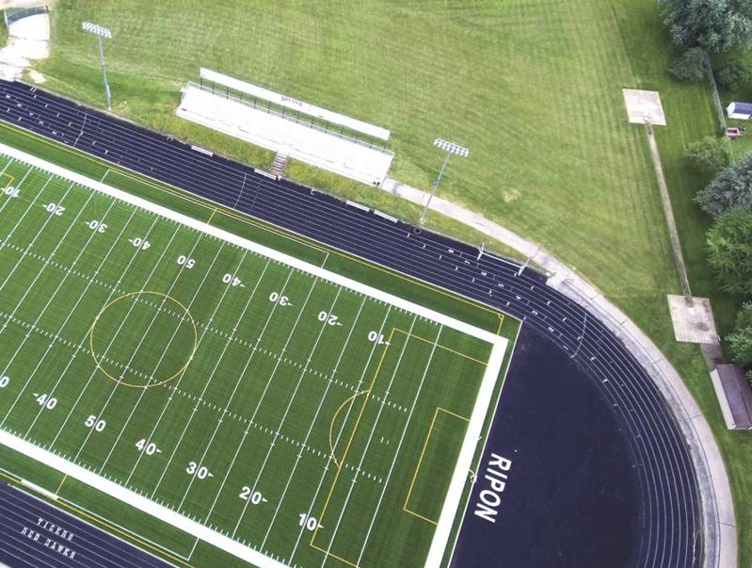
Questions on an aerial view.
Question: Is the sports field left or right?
left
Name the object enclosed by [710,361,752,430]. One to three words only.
shed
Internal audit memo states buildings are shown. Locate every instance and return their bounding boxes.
[710,361,752,430]
[723,97,752,120]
